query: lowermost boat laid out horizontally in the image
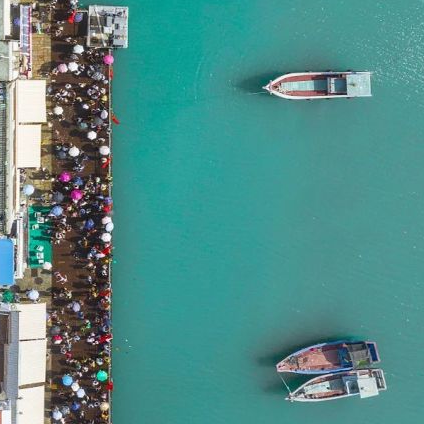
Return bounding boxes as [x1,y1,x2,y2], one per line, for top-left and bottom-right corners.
[282,363,386,403]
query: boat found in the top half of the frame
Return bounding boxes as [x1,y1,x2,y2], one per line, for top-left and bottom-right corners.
[261,67,372,99]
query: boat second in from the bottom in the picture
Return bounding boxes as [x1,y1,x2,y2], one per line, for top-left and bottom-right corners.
[274,333,379,373]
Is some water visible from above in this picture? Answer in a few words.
Yes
